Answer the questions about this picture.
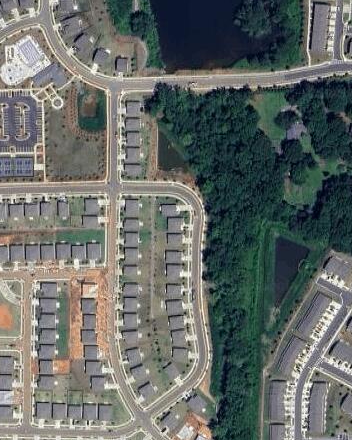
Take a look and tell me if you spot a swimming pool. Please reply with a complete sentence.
Yes, there is a swimming pool in the image.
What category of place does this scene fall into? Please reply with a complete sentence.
It's a residential area.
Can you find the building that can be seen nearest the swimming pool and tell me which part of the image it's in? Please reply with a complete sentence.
The building that can be seen nearest the swimming pool appears toward the top left of the photo.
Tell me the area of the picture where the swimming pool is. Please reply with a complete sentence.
You can find the swimming pool in the top left area of the picture.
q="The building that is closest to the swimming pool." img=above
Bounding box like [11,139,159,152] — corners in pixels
[31,60,70,90]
